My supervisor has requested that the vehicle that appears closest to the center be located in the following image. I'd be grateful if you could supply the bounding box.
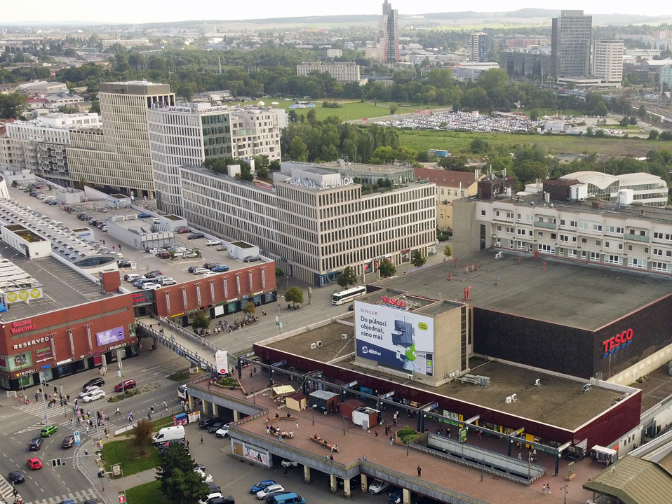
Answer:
[331,286,365,305]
